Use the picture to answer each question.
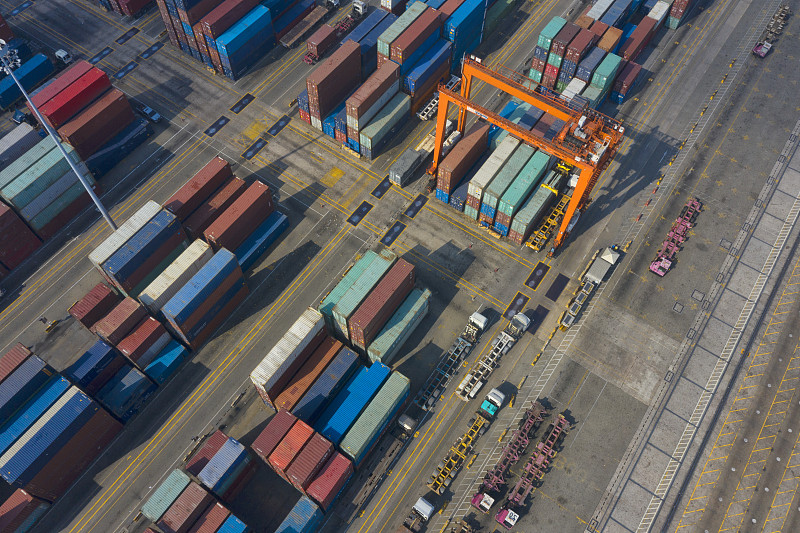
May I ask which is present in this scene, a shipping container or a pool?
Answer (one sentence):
The one in the frame is a shipping container.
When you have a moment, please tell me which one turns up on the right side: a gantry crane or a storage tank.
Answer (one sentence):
What appears on the right side is a gantry crane.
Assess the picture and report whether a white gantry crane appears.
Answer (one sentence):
No, no white gantry crane is visible in the view.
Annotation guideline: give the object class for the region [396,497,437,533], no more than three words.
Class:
truck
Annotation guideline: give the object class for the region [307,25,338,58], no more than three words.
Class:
shipping container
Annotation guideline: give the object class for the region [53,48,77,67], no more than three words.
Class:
vehicle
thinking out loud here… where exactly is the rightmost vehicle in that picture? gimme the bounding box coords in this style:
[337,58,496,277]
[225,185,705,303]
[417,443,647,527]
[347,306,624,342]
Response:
[749,2,795,63]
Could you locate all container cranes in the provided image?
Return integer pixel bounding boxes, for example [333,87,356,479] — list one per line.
[423,45,638,259]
